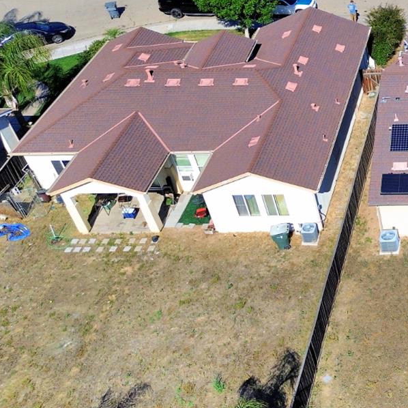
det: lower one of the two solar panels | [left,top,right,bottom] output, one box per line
[379,173,408,193]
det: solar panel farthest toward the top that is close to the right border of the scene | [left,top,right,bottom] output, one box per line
[389,122,408,150]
